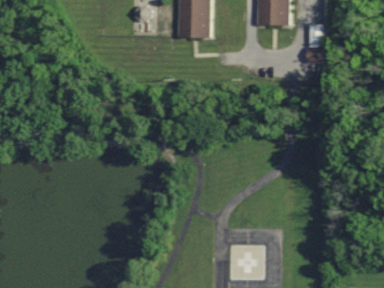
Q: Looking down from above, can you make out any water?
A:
Yes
